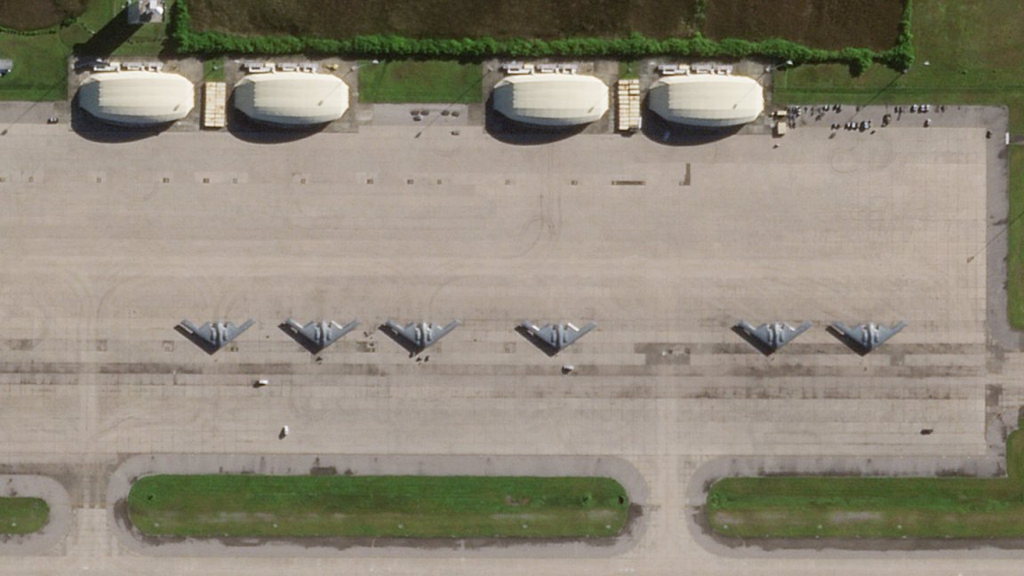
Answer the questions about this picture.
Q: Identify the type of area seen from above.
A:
airport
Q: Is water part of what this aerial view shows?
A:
No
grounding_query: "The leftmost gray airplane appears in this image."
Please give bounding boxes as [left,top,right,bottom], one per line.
[180,319,257,348]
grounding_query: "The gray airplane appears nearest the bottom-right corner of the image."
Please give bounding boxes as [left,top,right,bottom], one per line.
[832,320,907,348]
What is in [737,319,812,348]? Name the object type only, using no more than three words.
airplane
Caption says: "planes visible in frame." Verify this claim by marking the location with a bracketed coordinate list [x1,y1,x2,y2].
[737,319,812,348]
[180,319,257,348]
[521,320,597,349]
[385,318,462,347]
[284,318,361,347]
[832,320,907,348]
